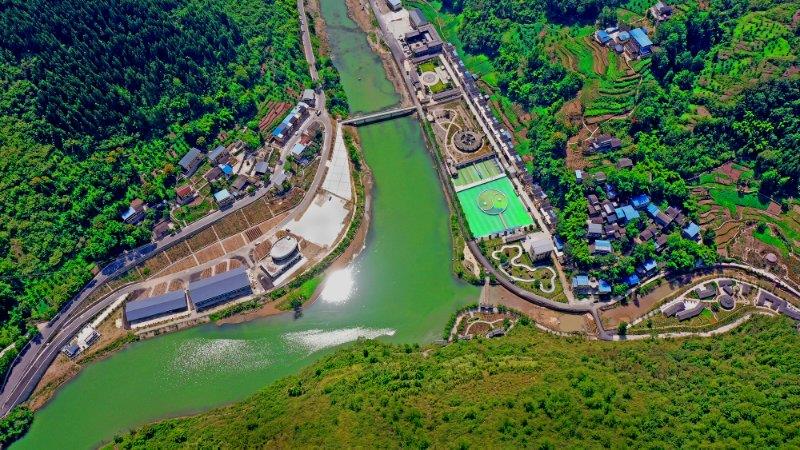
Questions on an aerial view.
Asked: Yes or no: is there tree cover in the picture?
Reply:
Yes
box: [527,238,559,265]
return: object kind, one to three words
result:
building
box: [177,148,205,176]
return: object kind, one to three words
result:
house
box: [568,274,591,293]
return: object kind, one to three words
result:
house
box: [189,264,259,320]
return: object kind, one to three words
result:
shed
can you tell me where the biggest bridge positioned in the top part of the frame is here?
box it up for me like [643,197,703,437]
[344,104,417,127]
